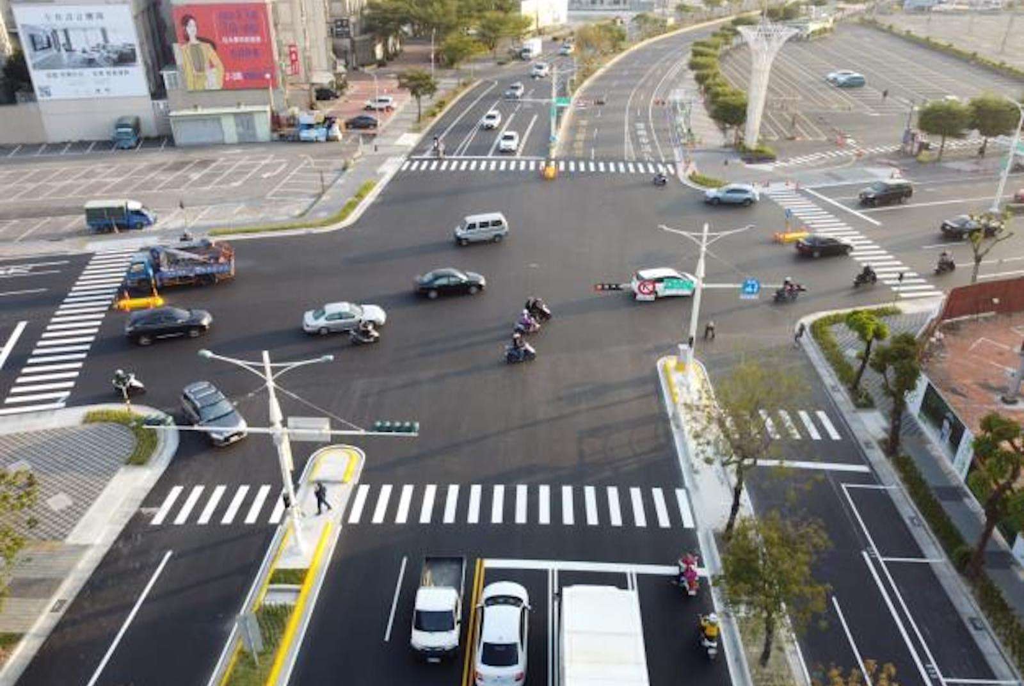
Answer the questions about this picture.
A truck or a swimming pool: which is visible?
truck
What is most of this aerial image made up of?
paved ground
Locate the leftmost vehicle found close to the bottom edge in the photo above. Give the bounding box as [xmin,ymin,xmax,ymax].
[399,551,467,672]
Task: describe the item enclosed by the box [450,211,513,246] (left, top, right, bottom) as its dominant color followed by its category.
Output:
gray car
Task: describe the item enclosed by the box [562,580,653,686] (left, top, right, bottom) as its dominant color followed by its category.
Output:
white truck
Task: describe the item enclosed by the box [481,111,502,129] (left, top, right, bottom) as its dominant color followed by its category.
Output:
white car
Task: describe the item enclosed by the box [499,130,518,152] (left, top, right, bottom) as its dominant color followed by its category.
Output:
white car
